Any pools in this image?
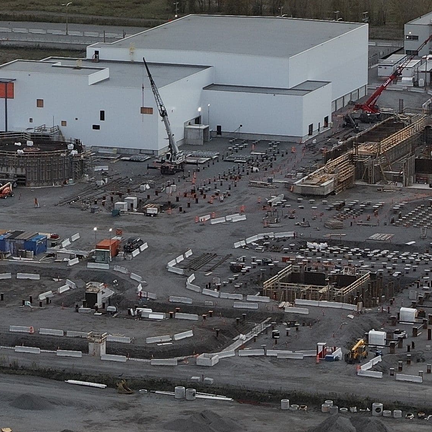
No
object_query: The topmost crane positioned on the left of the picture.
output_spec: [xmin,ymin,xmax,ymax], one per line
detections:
[141,56,201,173]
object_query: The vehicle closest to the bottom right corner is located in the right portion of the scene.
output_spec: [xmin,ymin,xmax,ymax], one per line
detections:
[325,337,374,364]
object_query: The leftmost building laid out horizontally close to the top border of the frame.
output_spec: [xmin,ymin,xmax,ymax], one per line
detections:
[0,14,369,156]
